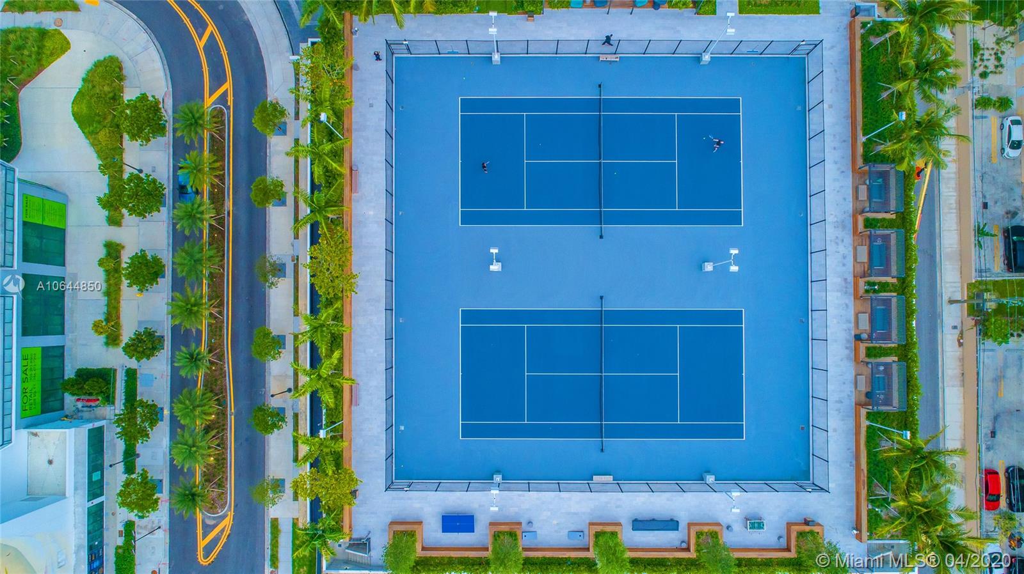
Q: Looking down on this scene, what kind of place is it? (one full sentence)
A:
It's a sports ground.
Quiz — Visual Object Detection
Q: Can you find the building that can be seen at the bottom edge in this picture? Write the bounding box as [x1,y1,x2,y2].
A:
[0,420,106,574]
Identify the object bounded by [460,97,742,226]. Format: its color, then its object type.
blue tennis court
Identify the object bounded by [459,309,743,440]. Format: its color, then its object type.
blue tennis court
